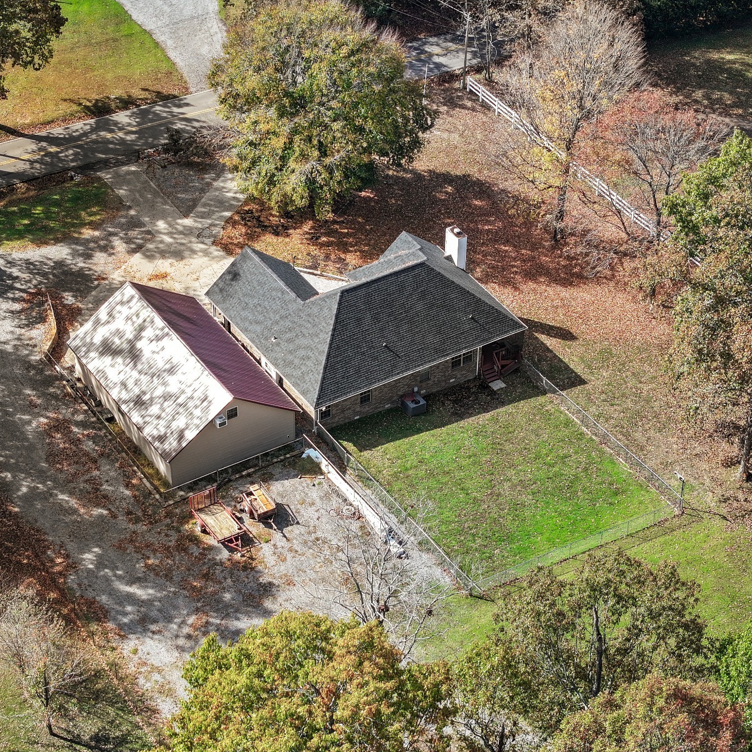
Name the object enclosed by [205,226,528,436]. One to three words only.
house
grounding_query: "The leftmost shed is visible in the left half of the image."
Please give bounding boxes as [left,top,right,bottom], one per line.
[67,282,301,488]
